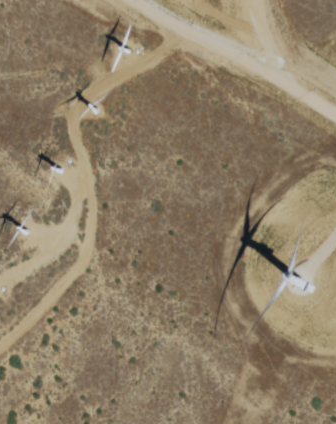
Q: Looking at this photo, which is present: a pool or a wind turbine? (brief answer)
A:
wind turbine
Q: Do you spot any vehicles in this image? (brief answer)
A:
No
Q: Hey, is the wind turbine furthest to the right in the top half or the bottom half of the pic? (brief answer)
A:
bottom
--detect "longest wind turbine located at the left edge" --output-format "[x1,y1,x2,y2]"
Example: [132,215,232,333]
[8,207,30,248]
